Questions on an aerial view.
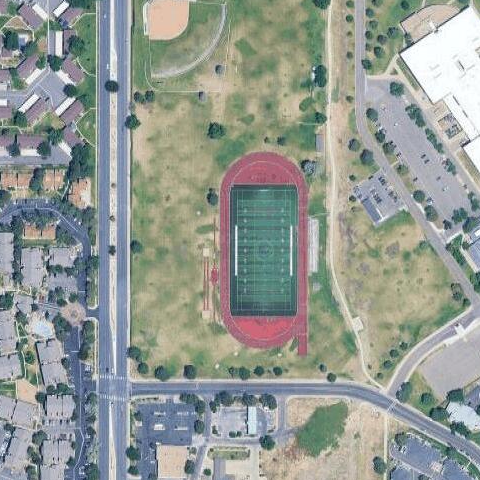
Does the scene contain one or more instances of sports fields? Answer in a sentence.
Yes, a sports field appears in the view.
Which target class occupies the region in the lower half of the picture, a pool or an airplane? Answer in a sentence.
The feature located in the lower half of the picture is a pool.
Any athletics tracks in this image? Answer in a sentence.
Yes, there's an athletics track down there.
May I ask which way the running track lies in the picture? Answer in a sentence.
In this picture, the running track lies from top to bottom.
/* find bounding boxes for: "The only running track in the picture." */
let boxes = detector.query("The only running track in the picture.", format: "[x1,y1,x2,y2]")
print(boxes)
[220,151,308,355]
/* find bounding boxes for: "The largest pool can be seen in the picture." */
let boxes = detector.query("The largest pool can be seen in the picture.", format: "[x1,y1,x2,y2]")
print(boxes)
[30,313,59,342]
